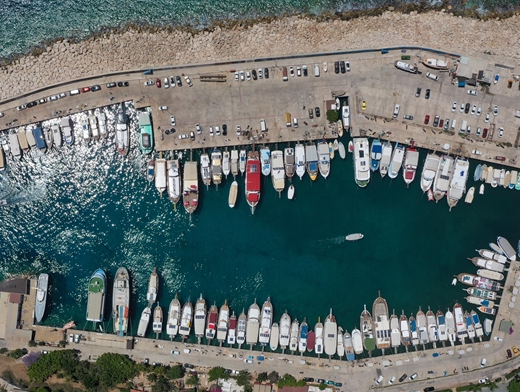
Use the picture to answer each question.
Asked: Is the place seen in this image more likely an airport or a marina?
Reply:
marina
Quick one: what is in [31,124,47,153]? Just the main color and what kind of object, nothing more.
blue boat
